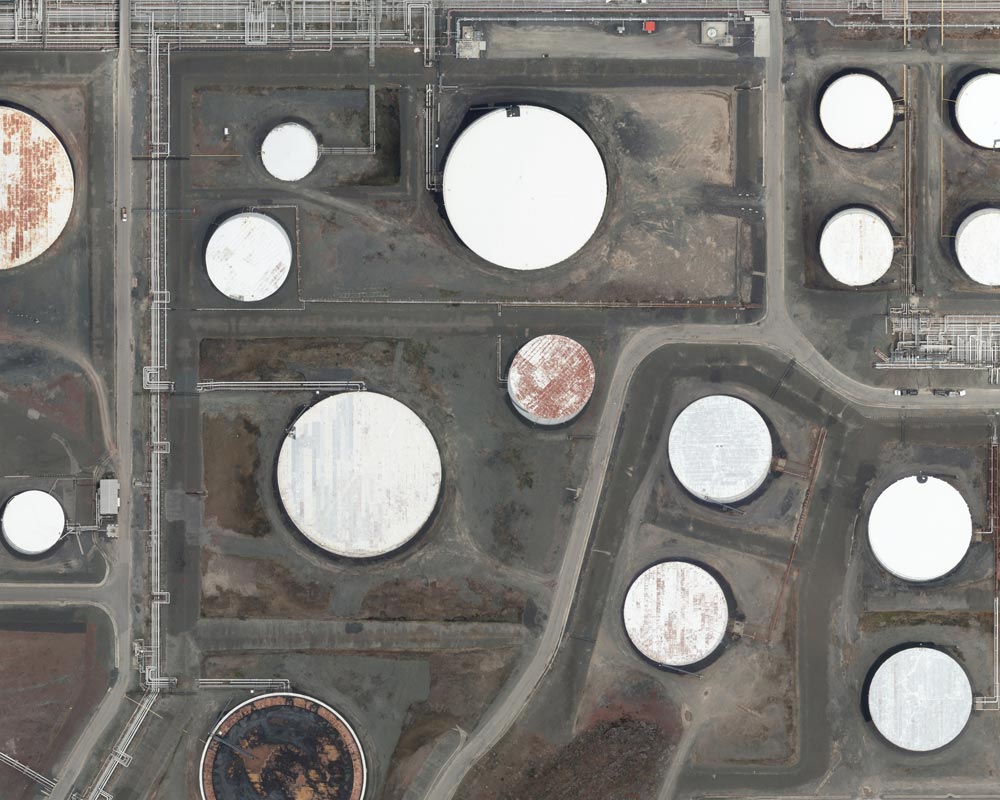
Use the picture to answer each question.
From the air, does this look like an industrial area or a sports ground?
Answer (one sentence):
This image shows an industrial area.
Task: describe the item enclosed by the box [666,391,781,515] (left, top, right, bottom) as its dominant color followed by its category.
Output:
white storage tank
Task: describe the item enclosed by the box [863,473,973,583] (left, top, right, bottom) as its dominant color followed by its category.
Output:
white storage tank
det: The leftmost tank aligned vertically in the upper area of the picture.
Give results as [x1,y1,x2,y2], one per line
[0,99,82,271]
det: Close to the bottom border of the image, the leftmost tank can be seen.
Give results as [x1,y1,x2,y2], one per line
[200,693,368,800]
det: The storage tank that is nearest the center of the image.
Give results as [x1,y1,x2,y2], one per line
[504,334,598,428]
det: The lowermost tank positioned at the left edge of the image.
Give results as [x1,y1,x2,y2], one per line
[0,488,68,557]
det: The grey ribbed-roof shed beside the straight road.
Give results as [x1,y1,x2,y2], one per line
[98,480,120,515]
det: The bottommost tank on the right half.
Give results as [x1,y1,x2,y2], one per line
[861,639,972,749]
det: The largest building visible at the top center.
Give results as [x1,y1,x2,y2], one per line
[456,26,485,58]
